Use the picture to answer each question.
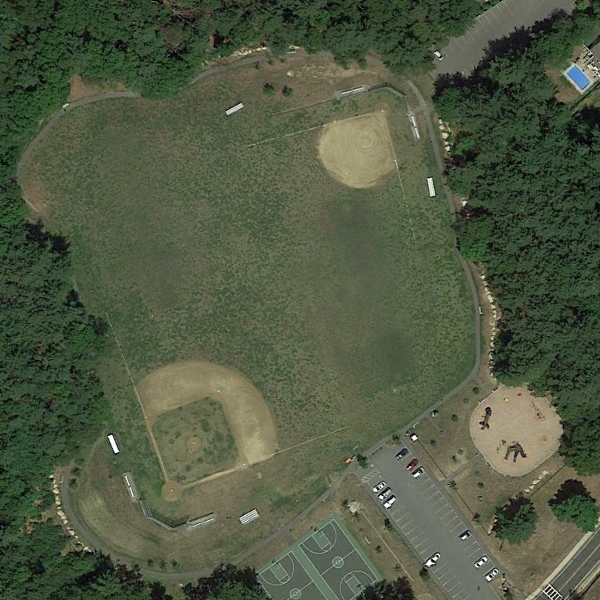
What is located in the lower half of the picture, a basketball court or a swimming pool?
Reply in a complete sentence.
You can see a basketball court in the lower half of the picture.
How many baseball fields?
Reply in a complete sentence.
In total, 2 baseball fields can be seen.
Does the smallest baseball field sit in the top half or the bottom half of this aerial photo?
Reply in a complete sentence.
Seen from above, the smallest baseball field lies in the top half of the view.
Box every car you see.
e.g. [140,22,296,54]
[459,531,471,541]
[425,553,441,565]
[373,482,386,492]
[384,496,397,507]
[475,557,488,568]
[405,460,418,471]
[412,468,425,479]
[379,489,391,500]
[396,449,408,460]
[432,50,445,61]
[486,570,499,580]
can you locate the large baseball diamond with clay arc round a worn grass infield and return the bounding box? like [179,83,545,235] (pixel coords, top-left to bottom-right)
[107,314,344,502]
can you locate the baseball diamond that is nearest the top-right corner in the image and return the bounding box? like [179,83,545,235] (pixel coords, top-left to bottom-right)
[245,107,414,238]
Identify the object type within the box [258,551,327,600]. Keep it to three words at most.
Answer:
basketball court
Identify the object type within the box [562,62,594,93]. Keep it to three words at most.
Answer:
swimming pool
